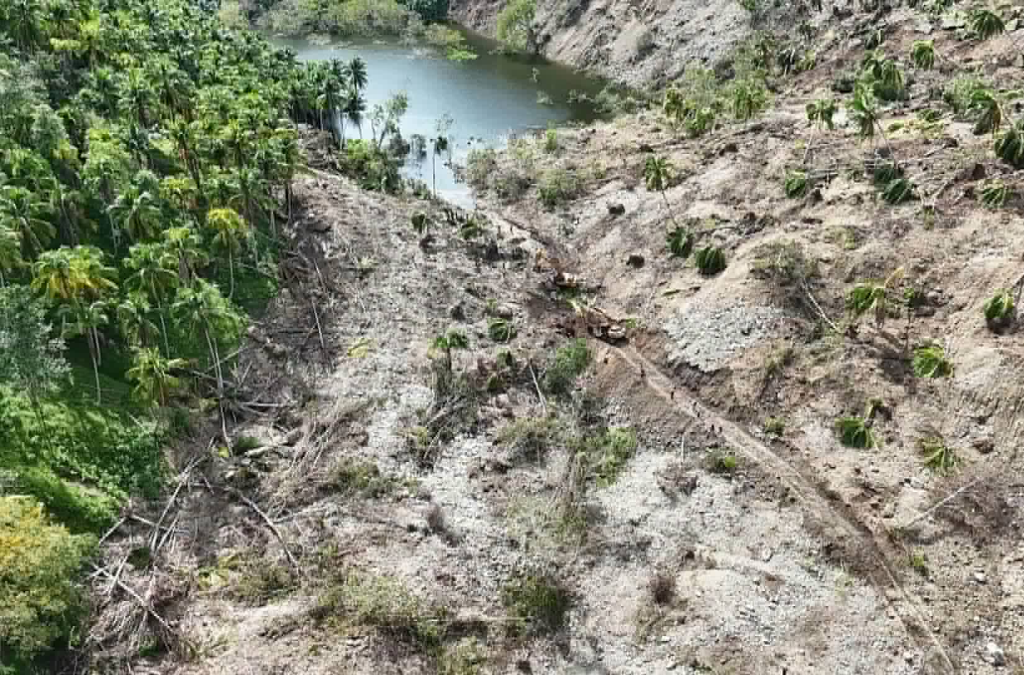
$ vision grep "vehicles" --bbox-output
[584,306,629,342]
[546,254,583,289]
